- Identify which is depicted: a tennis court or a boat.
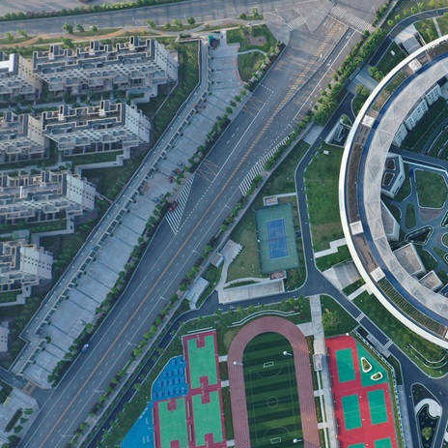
tennis court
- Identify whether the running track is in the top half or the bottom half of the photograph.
bottom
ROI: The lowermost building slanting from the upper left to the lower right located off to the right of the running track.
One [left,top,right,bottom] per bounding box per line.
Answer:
[358,332,391,358]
